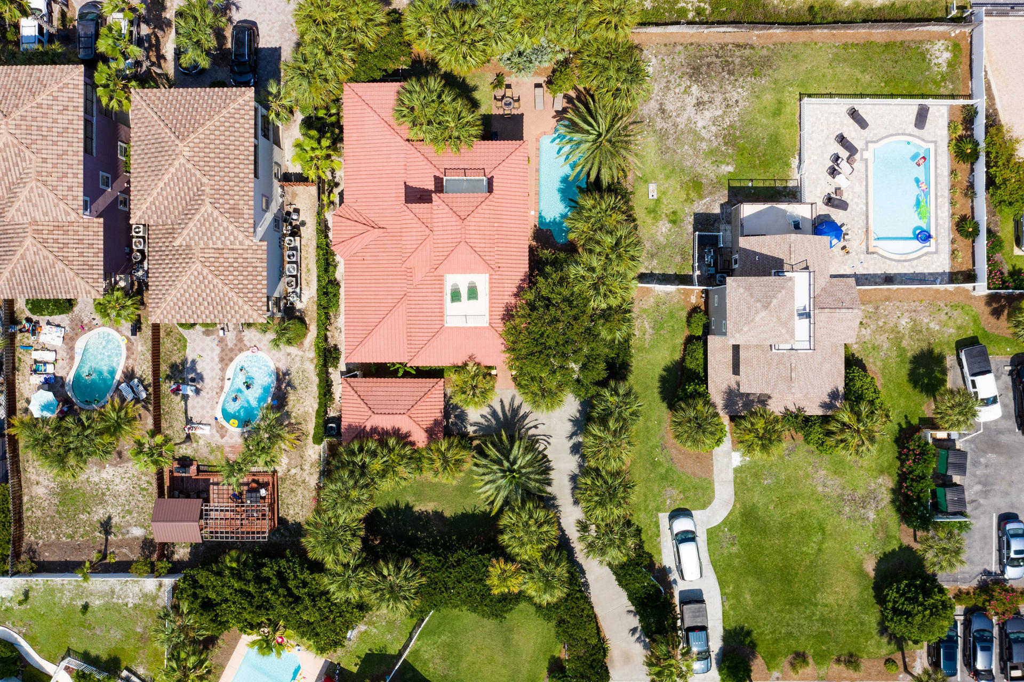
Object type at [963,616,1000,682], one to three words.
car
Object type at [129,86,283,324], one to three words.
house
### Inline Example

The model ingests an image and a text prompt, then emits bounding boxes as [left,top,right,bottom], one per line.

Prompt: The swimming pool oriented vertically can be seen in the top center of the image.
[539,121,588,244]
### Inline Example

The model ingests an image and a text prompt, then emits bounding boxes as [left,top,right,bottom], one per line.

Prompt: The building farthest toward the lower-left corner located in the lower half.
[147,499,203,543]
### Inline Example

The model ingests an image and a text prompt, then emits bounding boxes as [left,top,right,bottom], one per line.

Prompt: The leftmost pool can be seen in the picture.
[66,328,125,409]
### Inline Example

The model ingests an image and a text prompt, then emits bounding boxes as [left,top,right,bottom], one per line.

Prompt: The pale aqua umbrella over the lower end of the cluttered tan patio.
[32,389,61,418]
